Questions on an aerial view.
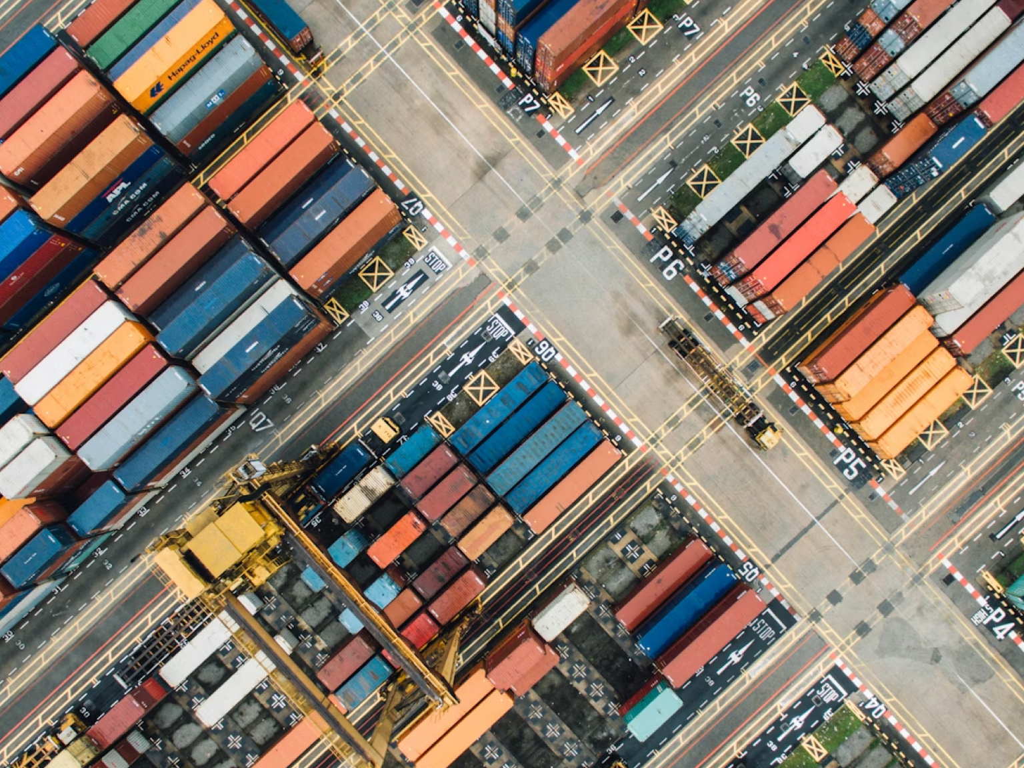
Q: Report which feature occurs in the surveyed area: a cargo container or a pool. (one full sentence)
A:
It is a cargo container that can be seen here.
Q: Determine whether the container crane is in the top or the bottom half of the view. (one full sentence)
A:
The bottom half of the photo is where the container crane is.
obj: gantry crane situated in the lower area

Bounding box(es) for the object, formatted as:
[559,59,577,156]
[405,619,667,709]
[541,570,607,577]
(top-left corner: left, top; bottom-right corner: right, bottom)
[142,438,484,768]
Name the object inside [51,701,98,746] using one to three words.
work vehicle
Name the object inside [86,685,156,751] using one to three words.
shipping container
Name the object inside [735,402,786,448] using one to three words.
work vehicle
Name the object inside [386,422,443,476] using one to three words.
shipping container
